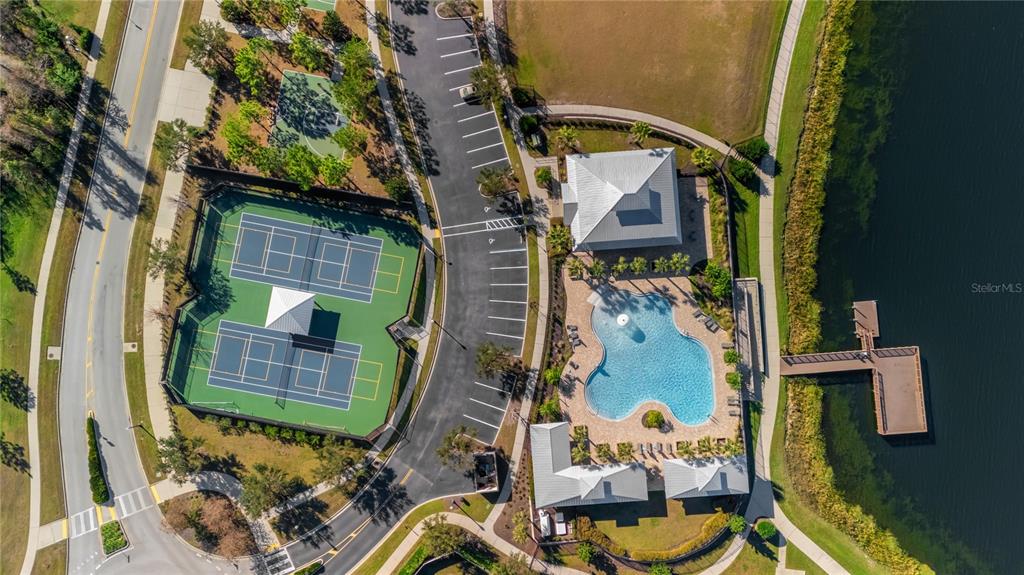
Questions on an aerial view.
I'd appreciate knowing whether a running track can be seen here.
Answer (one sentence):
No, I can't see a single running track in this photo.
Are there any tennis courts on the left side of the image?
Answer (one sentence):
Yes, you'll find a tennis court on the left side of the image.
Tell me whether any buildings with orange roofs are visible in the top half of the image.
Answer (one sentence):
No, looking in the top half of the image, there is no building with an orange roof.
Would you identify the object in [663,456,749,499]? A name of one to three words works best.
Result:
building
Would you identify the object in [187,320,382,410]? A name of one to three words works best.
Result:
tennis court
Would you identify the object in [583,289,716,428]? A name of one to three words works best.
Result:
swimming pool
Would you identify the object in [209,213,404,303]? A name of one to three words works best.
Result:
tennis court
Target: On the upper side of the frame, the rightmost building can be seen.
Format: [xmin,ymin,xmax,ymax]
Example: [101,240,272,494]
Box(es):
[562,147,682,251]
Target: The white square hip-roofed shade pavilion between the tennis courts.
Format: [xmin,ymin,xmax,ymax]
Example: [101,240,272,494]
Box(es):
[265,287,316,335]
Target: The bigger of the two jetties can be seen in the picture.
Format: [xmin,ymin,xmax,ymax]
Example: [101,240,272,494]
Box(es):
[780,346,930,436]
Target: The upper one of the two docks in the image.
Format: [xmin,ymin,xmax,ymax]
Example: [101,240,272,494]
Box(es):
[852,300,879,351]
